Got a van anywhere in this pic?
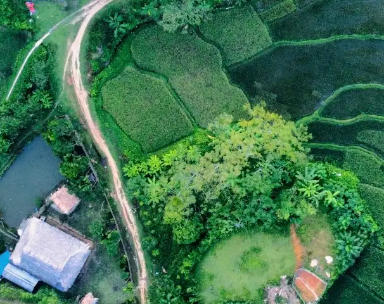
No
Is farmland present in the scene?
Yes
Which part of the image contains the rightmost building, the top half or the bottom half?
bottom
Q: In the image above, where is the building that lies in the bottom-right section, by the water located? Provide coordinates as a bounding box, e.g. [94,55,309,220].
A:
[295,267,327,304]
